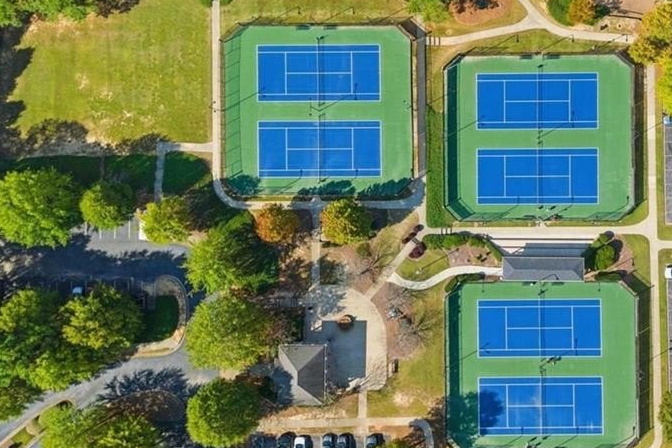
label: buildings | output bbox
[279,336,334,405]
[502,254,585,281]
